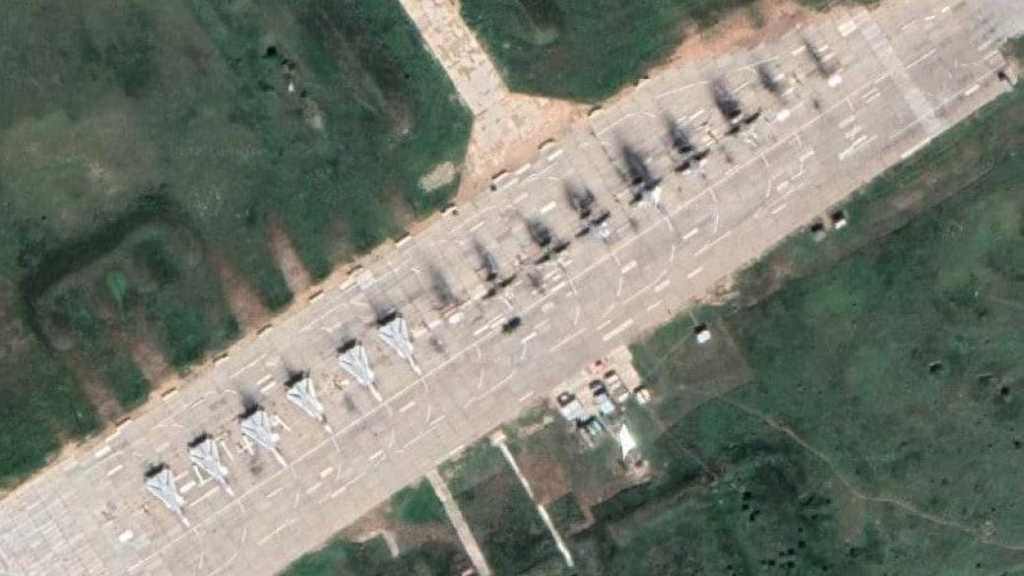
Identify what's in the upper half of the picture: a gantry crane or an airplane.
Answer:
airplane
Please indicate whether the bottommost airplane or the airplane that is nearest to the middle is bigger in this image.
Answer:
the bottommost airplane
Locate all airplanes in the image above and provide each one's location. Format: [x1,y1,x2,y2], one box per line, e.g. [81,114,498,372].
[674,149,712,186]
[725,113,762,150]
[575,215,613,253]
[286,376,332,434]
[338,343,383,404]
[628,179,666,218]
[482,275,520,312]
[189,437,233,496]
[534,242,572,279]
[241,409,288,469]
[144,468,190,529]
[378,316,422,376]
